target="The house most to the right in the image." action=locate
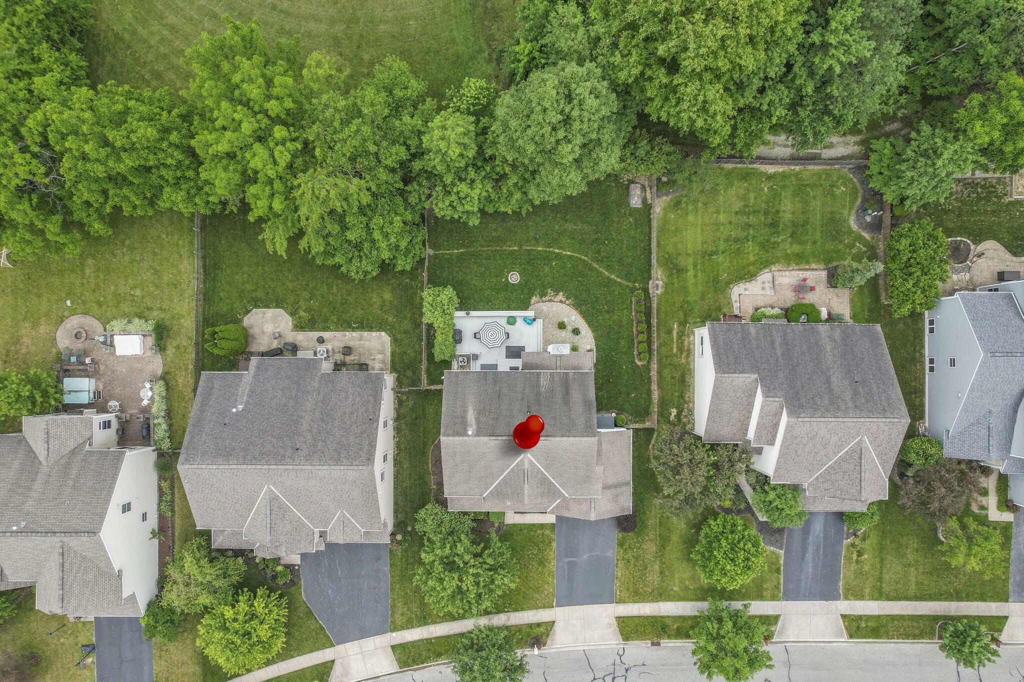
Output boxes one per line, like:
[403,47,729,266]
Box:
[924,282,1024,511]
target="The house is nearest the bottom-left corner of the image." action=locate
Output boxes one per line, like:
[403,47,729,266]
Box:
[0,412,160,618]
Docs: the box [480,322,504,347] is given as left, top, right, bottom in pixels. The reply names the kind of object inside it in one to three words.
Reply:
umbrella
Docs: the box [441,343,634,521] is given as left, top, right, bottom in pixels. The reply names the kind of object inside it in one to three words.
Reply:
house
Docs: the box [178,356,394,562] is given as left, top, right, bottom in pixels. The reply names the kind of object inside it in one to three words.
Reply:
house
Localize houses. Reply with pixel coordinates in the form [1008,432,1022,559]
[924,282,1024,511]
[693,316,910,513]
[0,412,160,618]
[441,343,634,521]
[178,356,394,562]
